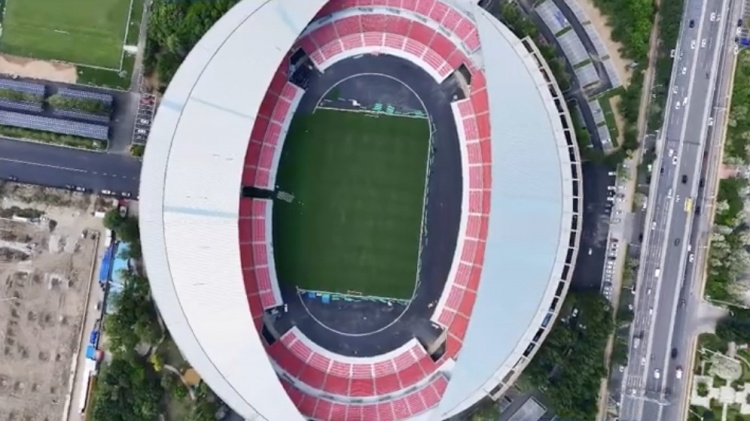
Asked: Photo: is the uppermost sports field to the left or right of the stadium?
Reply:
on the left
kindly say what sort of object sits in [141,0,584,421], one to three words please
stadium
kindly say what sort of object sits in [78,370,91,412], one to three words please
shed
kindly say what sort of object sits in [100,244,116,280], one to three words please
shed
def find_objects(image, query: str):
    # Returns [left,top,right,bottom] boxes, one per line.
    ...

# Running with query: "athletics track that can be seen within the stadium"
[268,52,461,355]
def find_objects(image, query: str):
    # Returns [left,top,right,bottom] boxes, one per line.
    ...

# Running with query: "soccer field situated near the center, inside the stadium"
[275,108,431,302]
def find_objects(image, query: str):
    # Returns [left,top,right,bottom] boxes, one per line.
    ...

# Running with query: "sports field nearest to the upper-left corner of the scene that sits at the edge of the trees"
[0,0,131,71]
